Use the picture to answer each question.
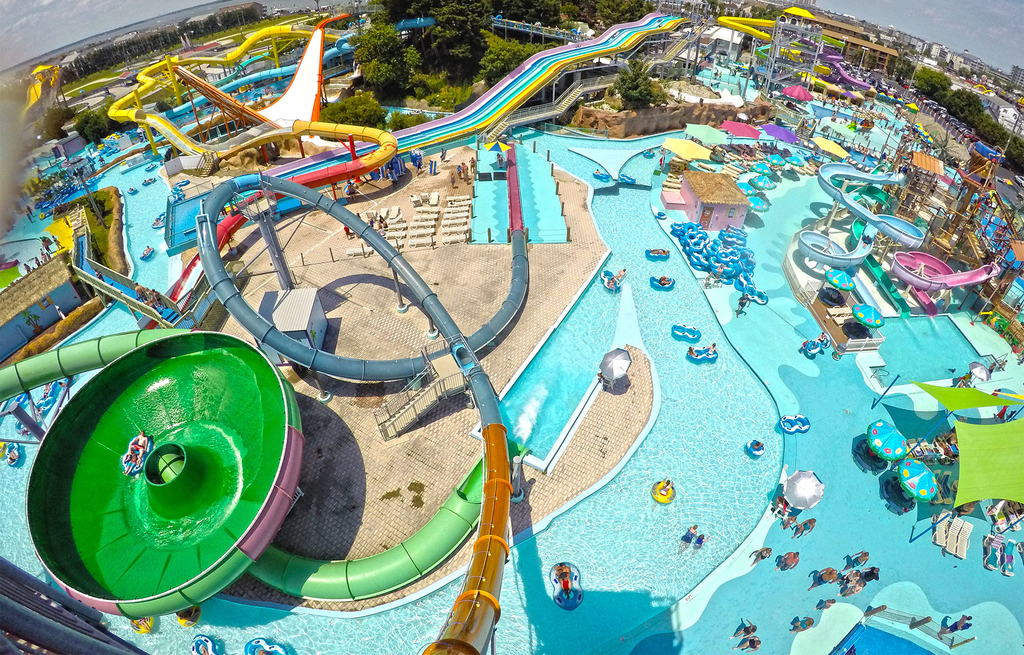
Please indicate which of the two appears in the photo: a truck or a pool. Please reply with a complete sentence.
Of the two, only a pool appears.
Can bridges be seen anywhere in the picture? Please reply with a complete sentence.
Yes, there is a bridge in the image.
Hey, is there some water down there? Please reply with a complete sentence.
Yes, there's water in this view.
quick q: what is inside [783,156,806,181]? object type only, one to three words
umbrella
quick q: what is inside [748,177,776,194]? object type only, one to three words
umbrella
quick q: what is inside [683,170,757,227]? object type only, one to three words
shed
